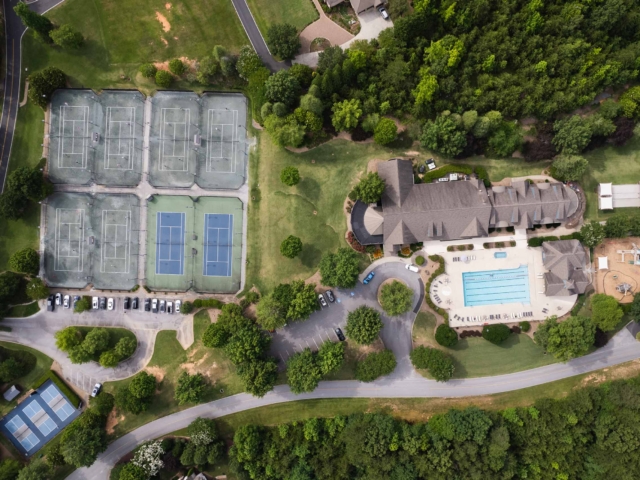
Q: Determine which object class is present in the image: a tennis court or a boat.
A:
tennis court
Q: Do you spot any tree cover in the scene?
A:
Yes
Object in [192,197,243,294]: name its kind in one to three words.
tennis court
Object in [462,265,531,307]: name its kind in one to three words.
swimming pool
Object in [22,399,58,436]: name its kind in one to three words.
sports court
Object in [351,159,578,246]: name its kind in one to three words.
building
